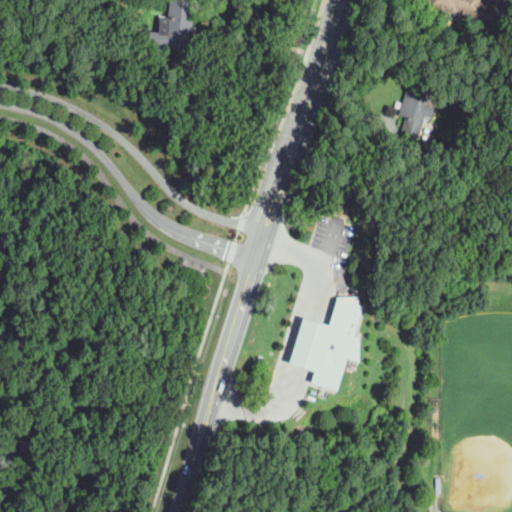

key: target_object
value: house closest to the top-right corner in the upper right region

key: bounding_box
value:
[400,93,434,134]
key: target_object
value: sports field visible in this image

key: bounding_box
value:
[442,312,512,512]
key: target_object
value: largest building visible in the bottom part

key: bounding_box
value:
[289,296,363,394]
